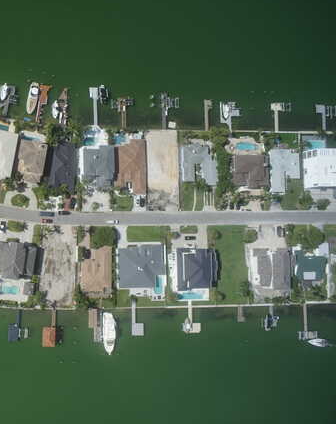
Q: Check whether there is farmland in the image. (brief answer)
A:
No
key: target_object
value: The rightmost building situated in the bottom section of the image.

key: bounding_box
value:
[294,250,327,289]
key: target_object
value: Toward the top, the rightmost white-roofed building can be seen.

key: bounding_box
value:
[300,148,336,188]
